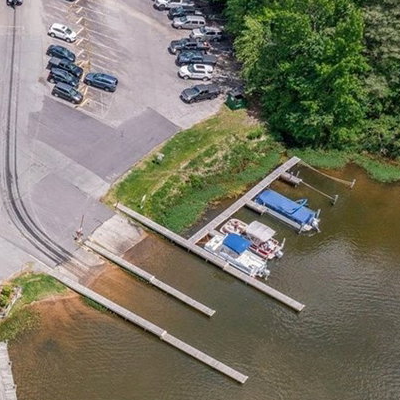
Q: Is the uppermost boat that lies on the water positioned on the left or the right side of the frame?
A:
right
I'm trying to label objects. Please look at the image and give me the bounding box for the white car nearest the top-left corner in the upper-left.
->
[46,21,79,42]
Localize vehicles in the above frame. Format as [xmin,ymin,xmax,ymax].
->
[174,49,221,67]
[166,4,208,20]
[177,63,216,81]
[45,64,81,87]
[44,44,77,60]
[171,13,208,31]
[44,55,86,78]
[49,79,86,104]
[189,24,226,40]
[154,0,195,10]
[178,80,225,102]
[167,36,212,54]
[46,21,79,42]
[82,70,121,92]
